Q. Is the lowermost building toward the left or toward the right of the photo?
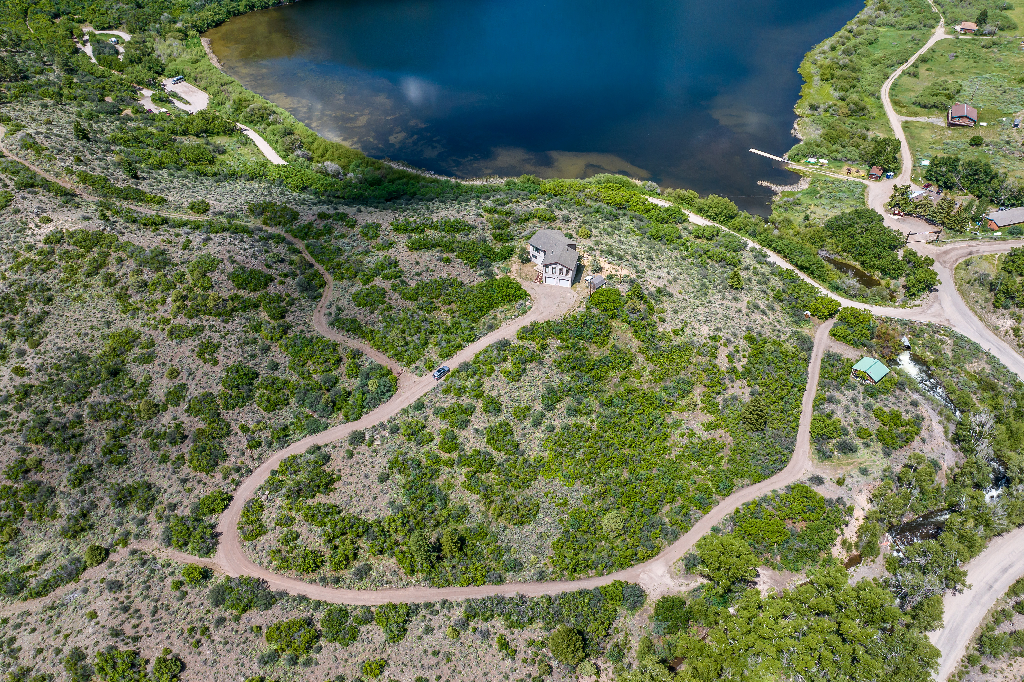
right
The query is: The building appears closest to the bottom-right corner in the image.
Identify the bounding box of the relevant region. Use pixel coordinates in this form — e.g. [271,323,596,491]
[850,359,893,388]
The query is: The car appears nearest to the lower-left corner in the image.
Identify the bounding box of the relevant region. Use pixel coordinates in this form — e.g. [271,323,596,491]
[431,364,453,379]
